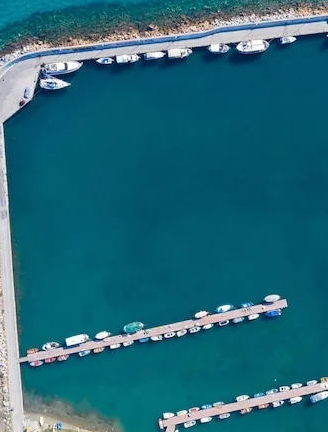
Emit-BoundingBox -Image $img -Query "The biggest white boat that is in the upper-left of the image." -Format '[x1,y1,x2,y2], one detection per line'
[39,63,80,76]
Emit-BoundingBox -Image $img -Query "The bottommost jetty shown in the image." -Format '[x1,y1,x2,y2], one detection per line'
[162,382,328,432]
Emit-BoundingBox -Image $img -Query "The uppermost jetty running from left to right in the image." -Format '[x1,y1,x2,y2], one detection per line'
[17,299,287,362]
